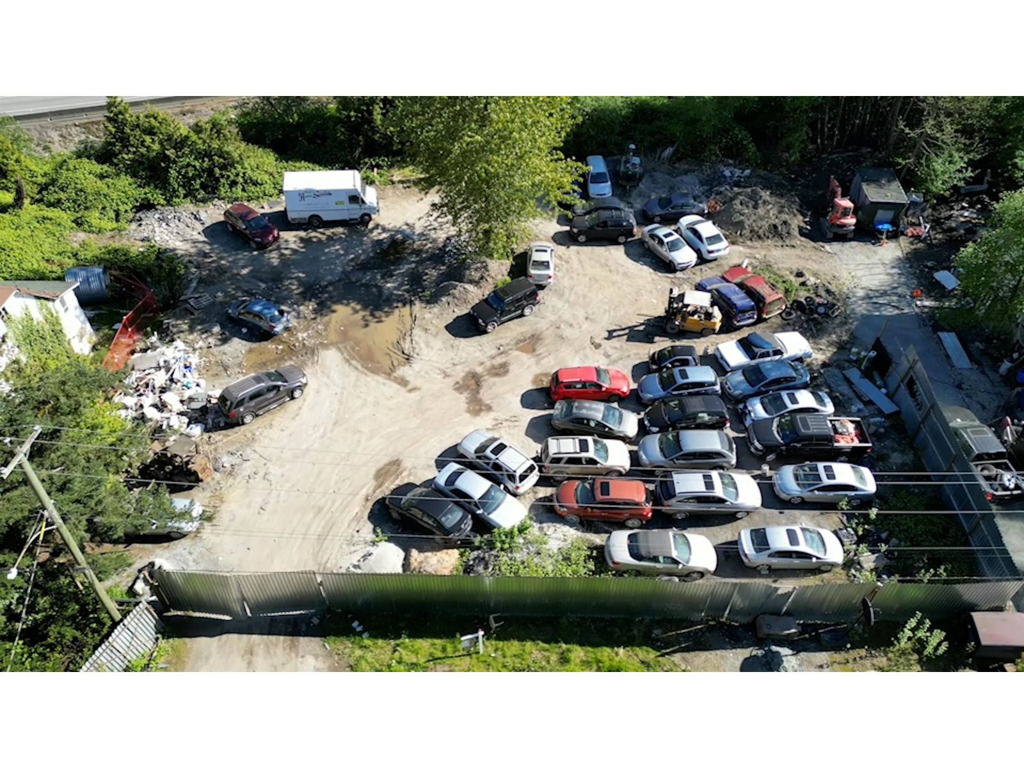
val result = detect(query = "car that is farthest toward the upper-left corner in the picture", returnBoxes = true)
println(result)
[222,204,279,250]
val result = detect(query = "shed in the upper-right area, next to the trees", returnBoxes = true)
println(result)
[843,159,923,232]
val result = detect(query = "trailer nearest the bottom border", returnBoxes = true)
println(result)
[964,611,1024,667]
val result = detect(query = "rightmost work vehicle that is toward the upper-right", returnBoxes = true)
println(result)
[819,169,856,234]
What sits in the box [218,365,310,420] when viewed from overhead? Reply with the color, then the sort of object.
gray car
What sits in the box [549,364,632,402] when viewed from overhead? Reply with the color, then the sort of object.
red car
